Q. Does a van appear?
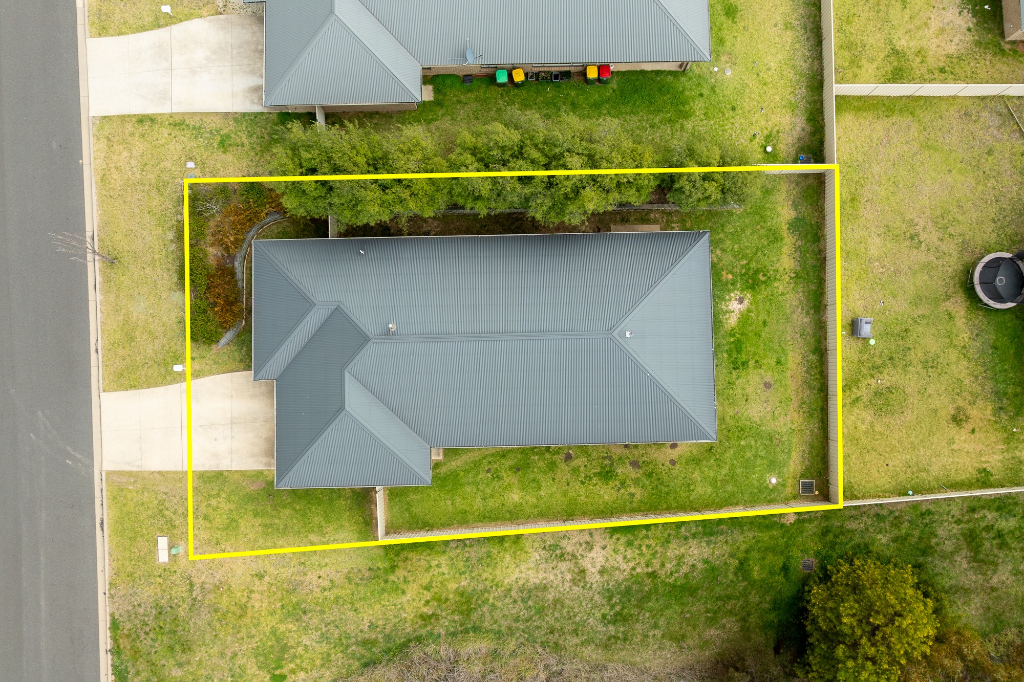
No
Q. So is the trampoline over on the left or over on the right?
right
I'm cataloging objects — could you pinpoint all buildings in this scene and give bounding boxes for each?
[1002,0,1024,40]
[253,231,717,488]
[259,0,711,113]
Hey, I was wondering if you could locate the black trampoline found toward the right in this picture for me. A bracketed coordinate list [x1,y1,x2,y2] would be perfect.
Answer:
[963,251,1024,312]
